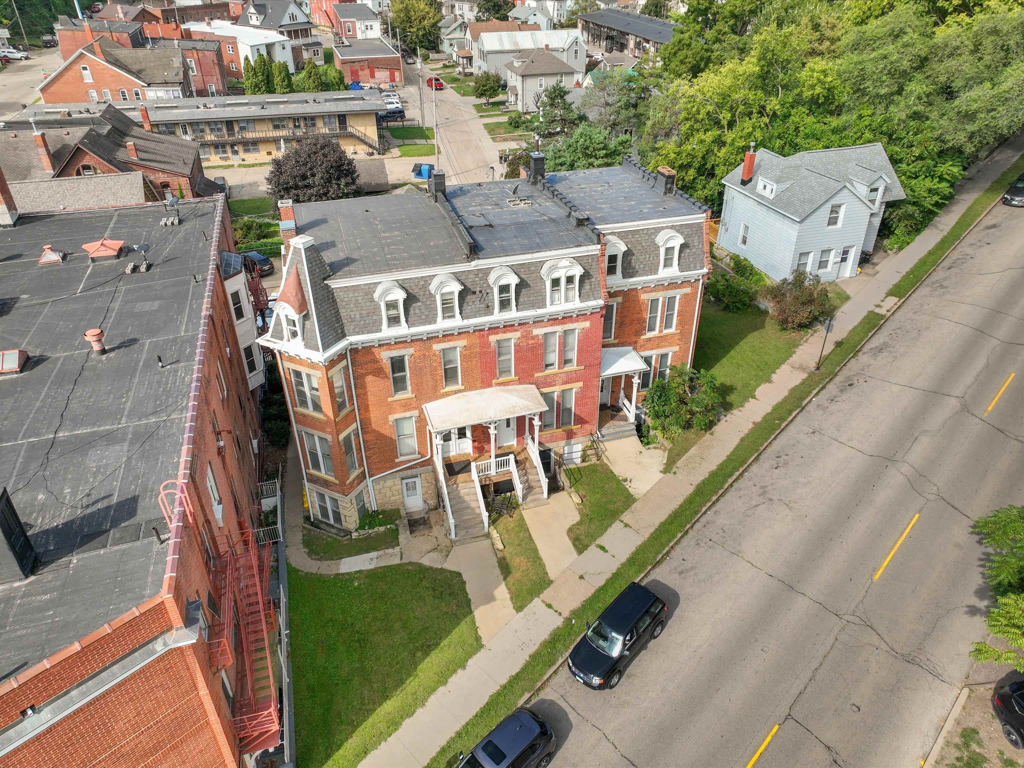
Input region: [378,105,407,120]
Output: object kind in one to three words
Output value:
car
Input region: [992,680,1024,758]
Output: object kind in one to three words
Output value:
car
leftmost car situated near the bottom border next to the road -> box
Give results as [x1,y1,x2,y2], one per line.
[448,696,557,768]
